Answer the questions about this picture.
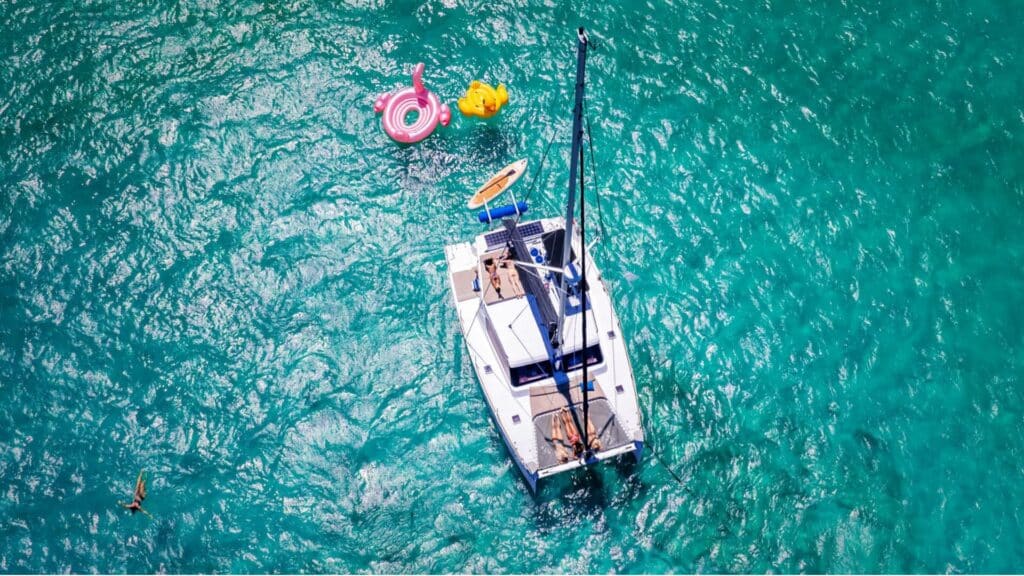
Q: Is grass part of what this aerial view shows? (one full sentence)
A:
No, the scene doesn't show any grass.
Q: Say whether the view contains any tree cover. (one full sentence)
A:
No, tree cover can't be seen anywhere here.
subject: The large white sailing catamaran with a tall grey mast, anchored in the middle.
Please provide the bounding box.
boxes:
[445,24,648,490]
